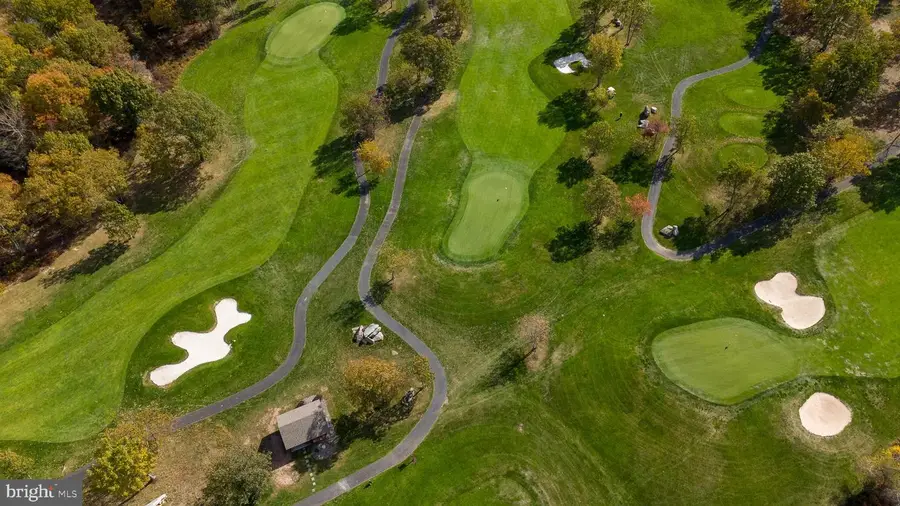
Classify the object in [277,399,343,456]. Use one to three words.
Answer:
shed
